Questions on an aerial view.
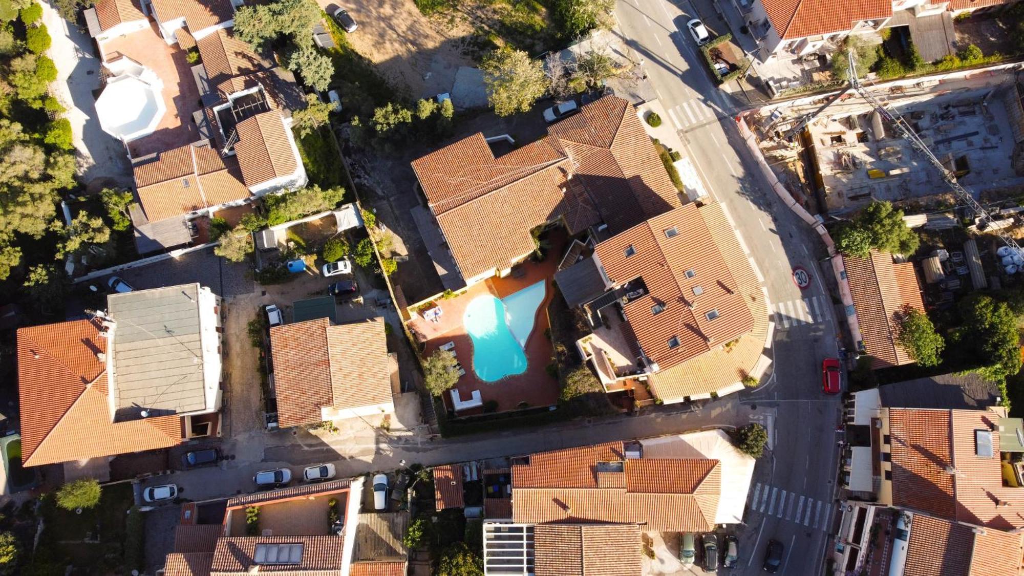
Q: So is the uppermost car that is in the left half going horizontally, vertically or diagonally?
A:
diagonally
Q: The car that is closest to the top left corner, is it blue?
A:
Yes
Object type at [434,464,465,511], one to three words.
building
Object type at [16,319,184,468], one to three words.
house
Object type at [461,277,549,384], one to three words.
swimming pool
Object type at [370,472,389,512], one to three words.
car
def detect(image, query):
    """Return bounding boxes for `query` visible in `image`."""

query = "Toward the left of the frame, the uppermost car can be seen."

[331,6,360,37]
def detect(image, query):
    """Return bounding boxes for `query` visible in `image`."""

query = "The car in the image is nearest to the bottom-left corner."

[143,483,179,503]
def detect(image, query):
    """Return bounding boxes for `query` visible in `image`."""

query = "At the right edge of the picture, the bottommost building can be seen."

[885,511,1022,576]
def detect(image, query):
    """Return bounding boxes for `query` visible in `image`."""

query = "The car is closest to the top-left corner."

[104,273,140,293]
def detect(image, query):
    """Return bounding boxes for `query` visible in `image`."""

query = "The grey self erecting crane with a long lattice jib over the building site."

[765,53,1024,265]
